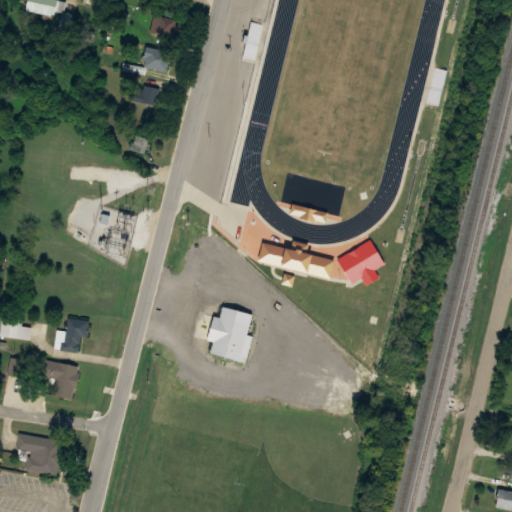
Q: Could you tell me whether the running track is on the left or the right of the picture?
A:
right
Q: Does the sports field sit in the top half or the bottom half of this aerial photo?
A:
top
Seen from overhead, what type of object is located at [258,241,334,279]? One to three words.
building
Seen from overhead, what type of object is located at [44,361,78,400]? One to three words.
house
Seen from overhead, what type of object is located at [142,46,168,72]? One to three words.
house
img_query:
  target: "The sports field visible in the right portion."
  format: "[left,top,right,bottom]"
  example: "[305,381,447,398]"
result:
[260,0,426,226]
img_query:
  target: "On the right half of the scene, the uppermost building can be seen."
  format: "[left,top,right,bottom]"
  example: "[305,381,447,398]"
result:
[290,204,328,224]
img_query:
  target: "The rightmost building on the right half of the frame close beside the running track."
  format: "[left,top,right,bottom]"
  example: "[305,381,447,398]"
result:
[338,240,385,286]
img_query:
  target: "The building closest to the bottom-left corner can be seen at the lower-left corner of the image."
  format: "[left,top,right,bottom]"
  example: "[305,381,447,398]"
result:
[16,434,58,476]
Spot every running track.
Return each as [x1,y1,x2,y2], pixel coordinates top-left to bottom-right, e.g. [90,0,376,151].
[230,0,444,244]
